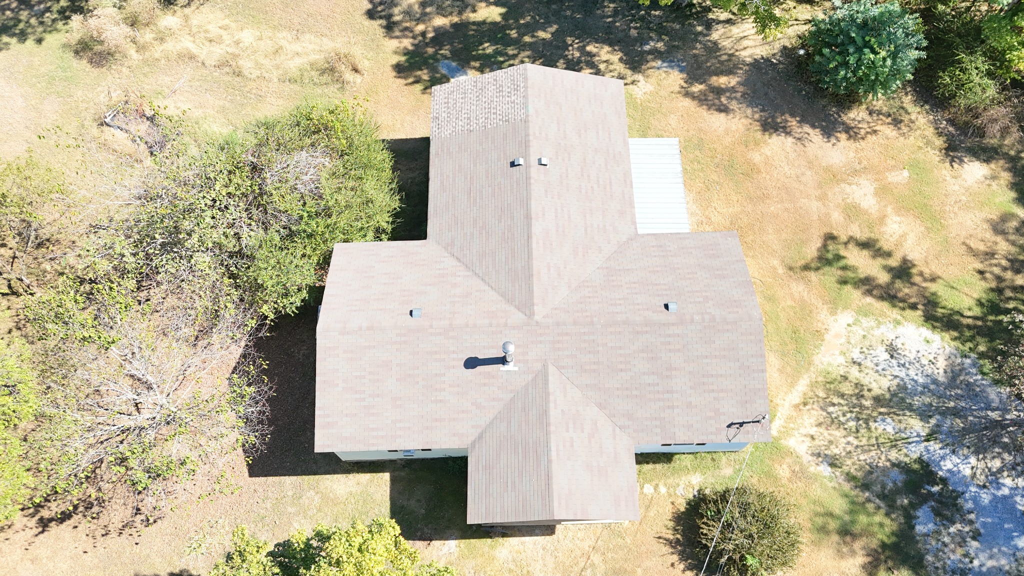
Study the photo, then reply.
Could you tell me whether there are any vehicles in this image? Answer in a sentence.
No, the frame has no vehicle in it.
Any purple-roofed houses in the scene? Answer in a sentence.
No, I can see no purple-roofed house in this picture.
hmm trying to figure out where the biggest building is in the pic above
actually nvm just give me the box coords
[314,64,772,527]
